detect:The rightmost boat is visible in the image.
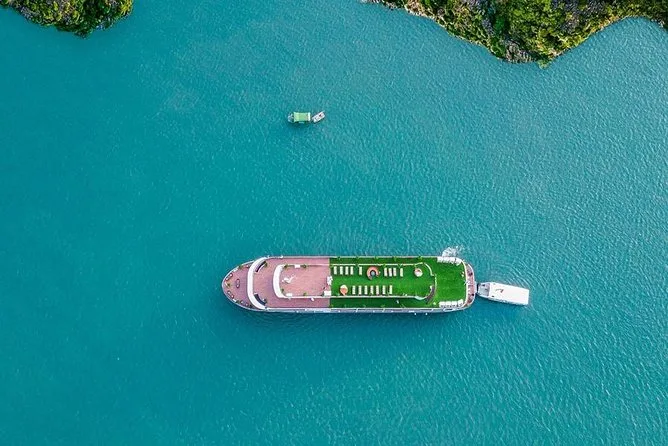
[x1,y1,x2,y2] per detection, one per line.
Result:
[476,284,528,306]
